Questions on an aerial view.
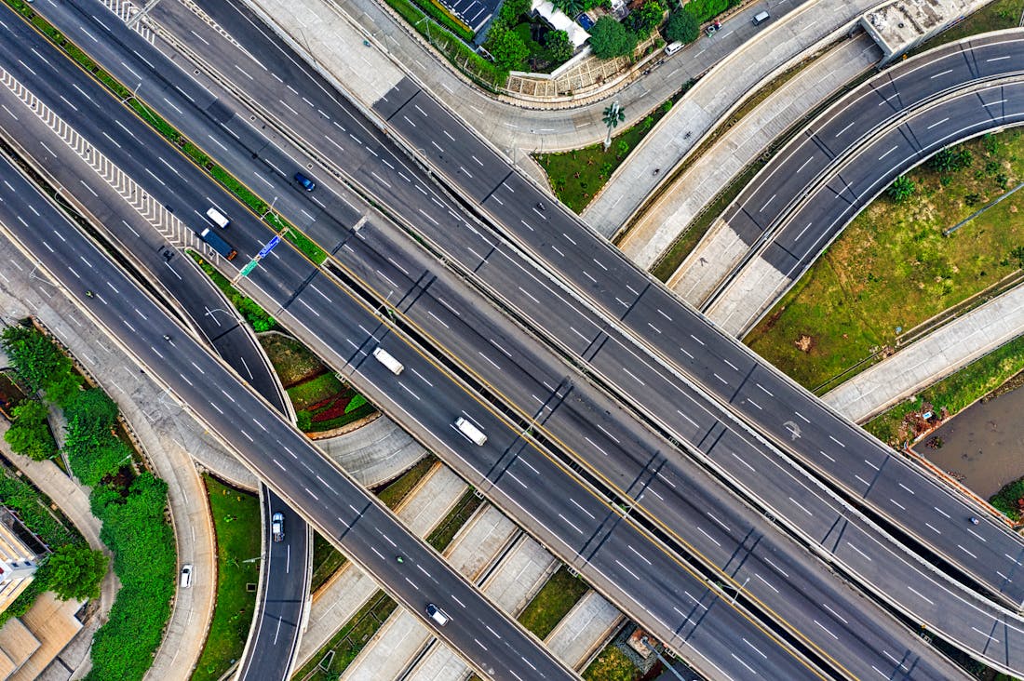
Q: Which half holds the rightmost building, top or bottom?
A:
top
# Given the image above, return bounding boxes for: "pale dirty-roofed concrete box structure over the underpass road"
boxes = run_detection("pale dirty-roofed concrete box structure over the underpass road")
[848,0,983,71]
